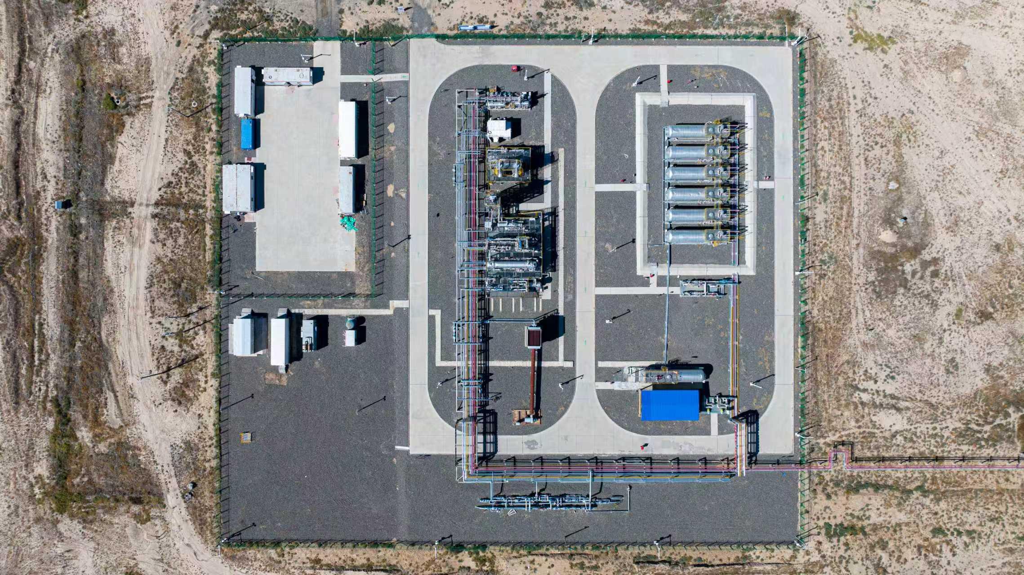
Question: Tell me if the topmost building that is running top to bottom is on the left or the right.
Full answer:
The topmost building that is running top to bottom is on the left side of the image.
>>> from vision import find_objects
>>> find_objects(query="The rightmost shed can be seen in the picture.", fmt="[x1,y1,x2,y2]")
[638,388,699,421]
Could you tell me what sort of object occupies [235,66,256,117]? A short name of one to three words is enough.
building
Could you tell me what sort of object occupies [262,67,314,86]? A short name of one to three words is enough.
building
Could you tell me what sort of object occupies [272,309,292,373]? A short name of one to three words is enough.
house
